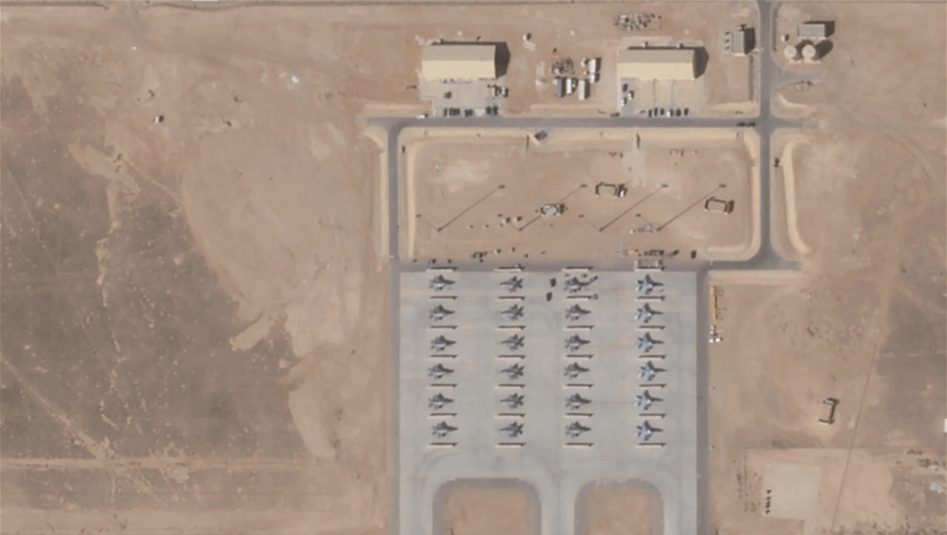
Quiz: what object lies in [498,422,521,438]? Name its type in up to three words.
airplane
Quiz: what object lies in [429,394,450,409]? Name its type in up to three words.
airplane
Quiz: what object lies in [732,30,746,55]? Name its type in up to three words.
building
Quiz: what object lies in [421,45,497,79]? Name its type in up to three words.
hangar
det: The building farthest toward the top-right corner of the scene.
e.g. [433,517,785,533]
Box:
[799,24,828,42]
